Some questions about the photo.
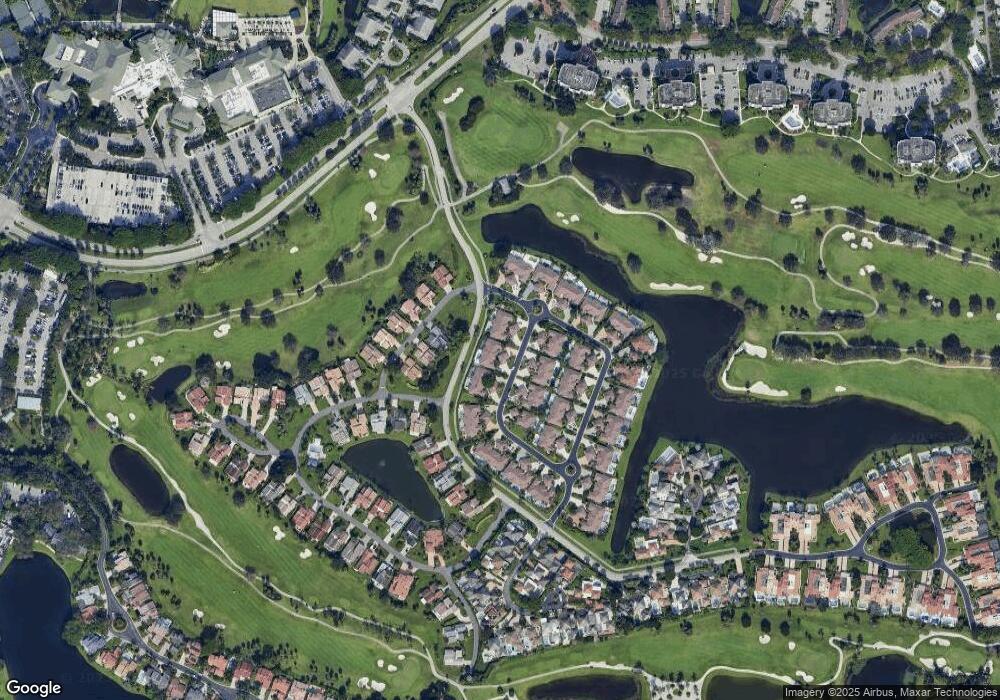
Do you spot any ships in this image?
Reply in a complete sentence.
No, there's no ship here.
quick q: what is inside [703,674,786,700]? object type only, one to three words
pond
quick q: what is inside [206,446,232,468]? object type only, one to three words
house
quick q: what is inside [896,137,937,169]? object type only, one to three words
building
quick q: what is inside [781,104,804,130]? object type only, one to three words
swimming pool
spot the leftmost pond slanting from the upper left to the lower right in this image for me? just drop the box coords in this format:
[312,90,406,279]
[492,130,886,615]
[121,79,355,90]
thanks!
[109,444,171,515]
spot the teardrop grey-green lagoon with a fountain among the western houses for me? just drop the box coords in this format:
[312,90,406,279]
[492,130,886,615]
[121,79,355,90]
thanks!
[342,438,442,523]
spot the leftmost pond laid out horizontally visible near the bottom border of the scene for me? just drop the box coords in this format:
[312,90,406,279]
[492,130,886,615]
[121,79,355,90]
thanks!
[521,675,643,700]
